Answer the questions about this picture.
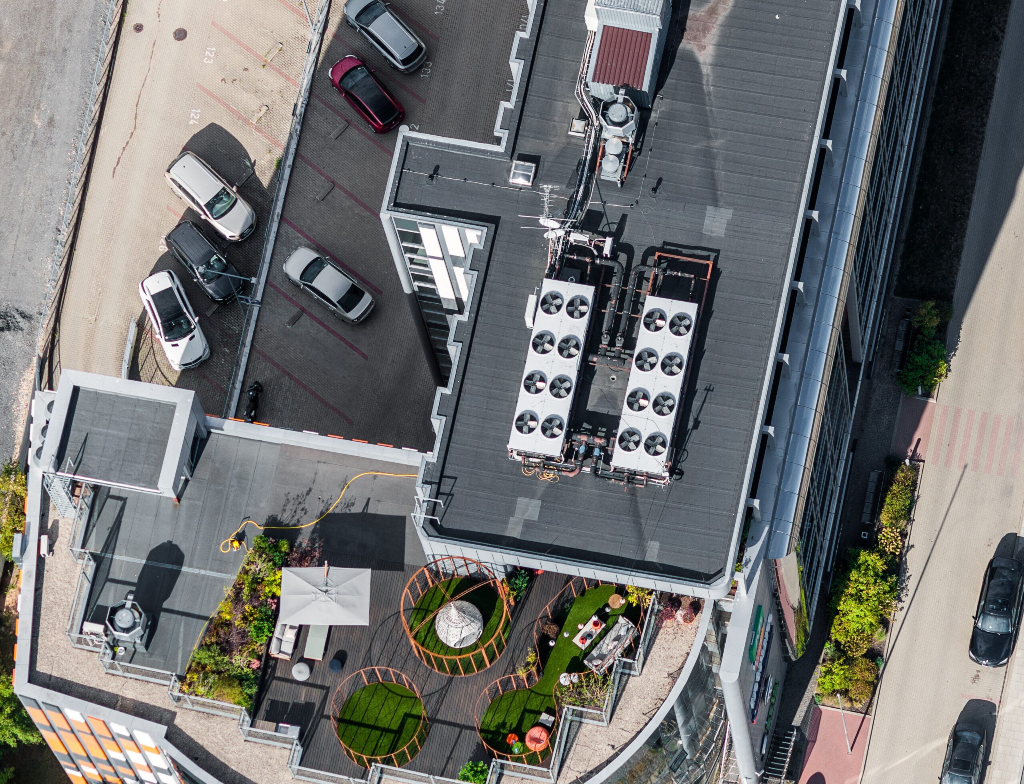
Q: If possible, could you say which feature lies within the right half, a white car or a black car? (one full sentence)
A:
Looking within the right half, you will find a black car.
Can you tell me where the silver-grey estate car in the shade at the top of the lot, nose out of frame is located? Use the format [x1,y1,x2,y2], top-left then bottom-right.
[345,0,429,77]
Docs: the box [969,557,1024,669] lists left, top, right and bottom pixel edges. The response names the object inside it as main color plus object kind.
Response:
black car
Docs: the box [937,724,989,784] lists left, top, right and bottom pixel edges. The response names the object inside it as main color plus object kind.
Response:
black car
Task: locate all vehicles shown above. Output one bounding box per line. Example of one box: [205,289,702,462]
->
[937,724,989,784]
[245,380,262,422]
[969,557,1024,669]
[161,151,252,247]
[160,219,241,309]
[328,55,405,136]
[345,0,429,77]
[141,268,210,373]
[280,248,377,326]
